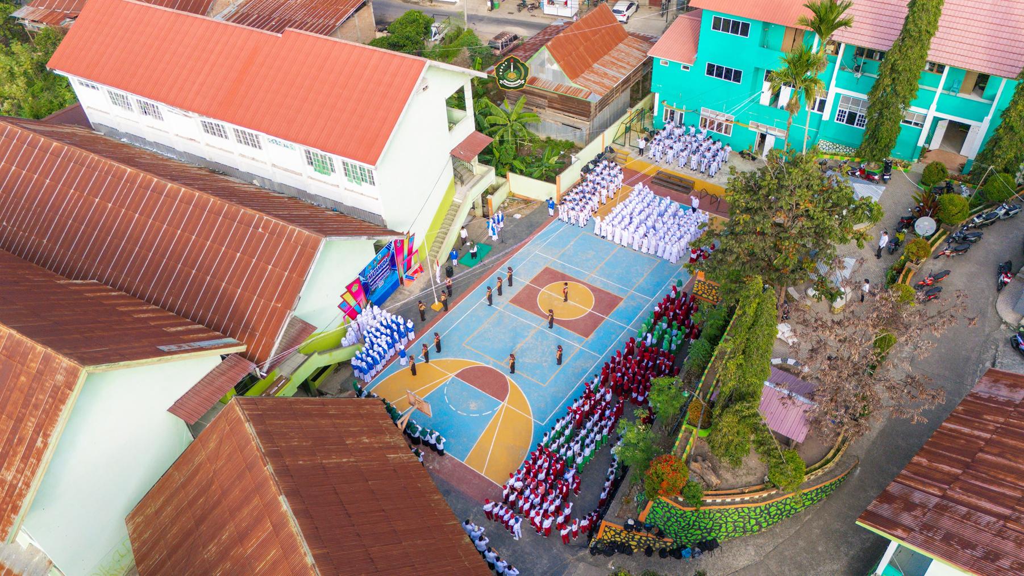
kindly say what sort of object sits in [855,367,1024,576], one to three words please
building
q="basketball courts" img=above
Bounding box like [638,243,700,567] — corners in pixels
[336,168,726,517]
